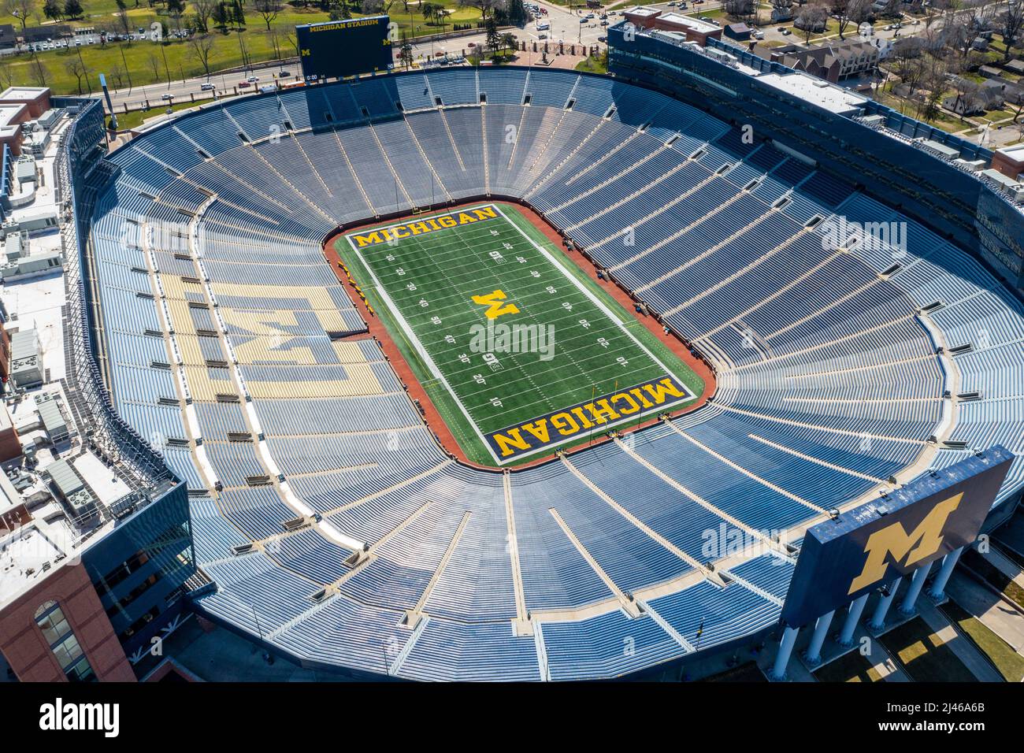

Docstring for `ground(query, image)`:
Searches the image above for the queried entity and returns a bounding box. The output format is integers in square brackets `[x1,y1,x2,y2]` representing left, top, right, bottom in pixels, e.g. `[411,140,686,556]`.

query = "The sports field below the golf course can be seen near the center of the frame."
[358,217,668,434]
